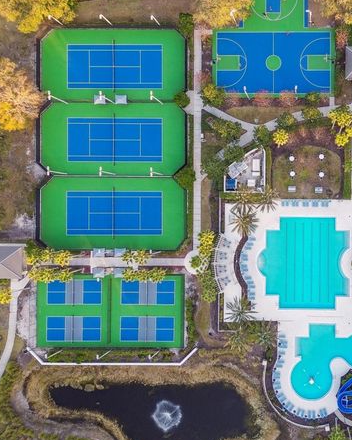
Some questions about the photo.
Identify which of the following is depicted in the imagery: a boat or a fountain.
fountain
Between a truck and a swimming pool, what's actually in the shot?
swimming pool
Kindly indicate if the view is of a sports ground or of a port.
sports ground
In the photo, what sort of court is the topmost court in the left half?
tennis court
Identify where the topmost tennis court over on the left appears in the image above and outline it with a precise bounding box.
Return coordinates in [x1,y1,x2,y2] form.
[41,29,183,101]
